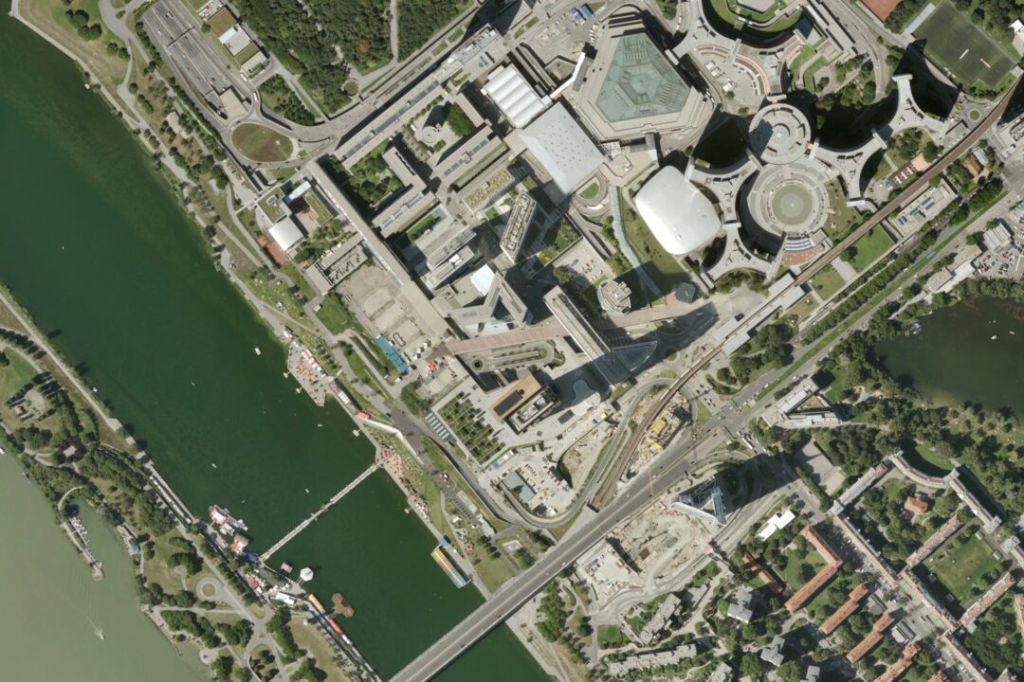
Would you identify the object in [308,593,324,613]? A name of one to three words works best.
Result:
ship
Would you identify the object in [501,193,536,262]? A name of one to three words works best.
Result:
building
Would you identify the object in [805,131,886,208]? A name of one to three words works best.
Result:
building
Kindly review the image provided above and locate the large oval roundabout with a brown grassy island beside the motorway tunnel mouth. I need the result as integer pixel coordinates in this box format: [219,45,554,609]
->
[222,113,302,170]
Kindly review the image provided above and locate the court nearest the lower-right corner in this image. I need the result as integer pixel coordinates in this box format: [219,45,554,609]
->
[793,440,847,496]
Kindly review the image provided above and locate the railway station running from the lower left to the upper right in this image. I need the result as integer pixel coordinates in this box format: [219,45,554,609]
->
[712,272,816,354]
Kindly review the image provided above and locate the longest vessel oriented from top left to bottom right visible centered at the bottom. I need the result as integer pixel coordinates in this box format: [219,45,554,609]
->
[430,546,465,587]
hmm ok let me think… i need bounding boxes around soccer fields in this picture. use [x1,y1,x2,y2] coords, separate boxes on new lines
[915,0,1016,87]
